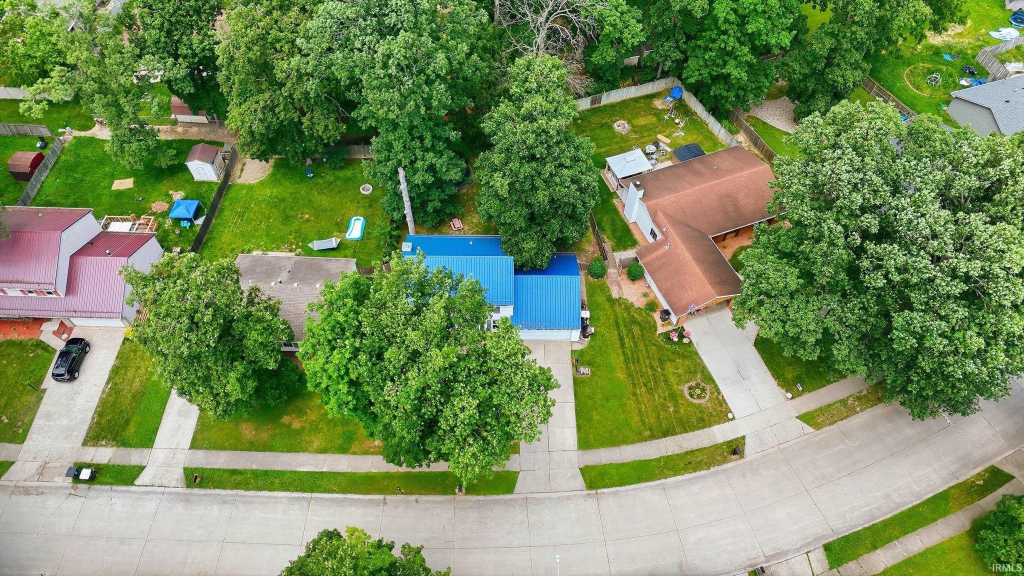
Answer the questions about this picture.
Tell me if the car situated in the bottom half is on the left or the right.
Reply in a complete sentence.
The car situated in the bottom half is on the left side of the image.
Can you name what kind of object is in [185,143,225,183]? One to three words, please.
shed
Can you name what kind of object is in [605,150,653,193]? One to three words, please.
gazebo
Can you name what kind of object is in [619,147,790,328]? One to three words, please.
house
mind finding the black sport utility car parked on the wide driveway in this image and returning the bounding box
[46,339,88,386]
